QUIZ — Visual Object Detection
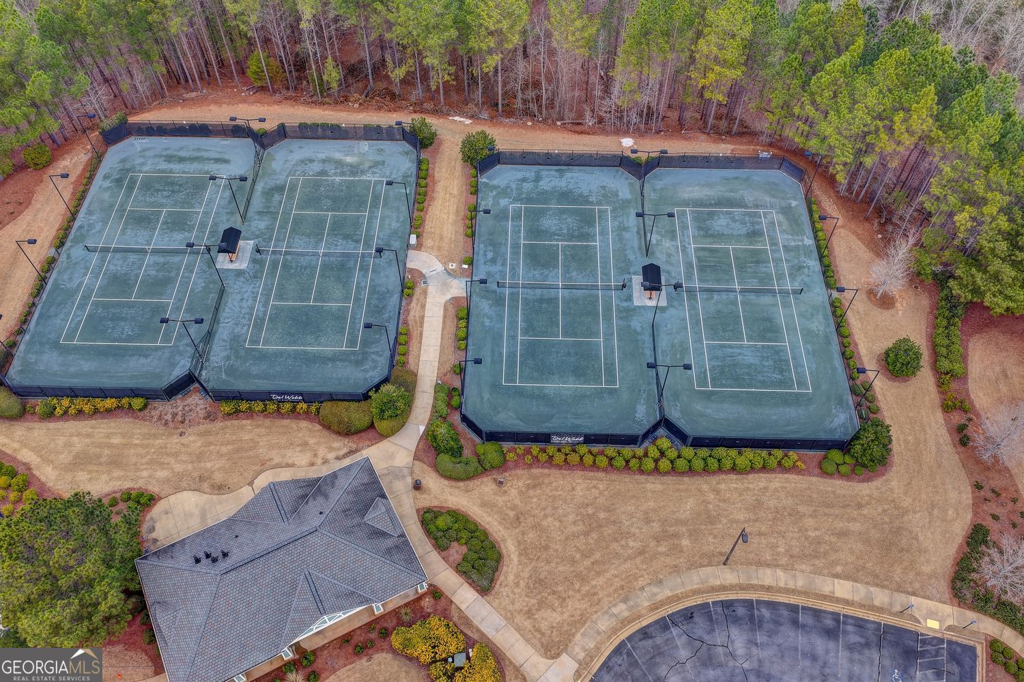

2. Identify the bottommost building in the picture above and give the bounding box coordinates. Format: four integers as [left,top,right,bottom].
[136,456,432,682]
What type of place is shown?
sports ground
